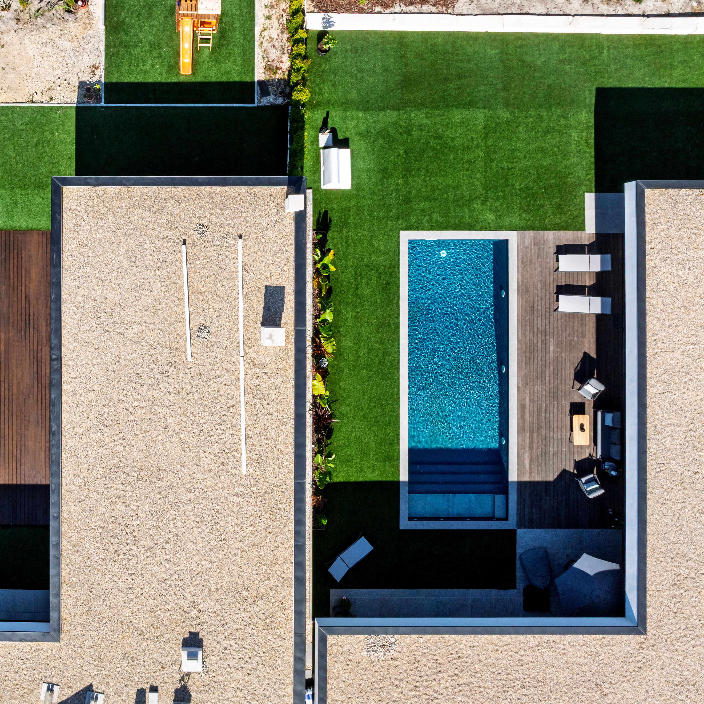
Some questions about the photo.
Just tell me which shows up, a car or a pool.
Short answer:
pool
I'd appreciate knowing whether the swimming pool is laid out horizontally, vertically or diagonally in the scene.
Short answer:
vertically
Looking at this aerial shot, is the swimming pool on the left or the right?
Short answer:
right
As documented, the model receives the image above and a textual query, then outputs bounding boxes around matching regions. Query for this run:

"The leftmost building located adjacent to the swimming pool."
[0,176,306,704]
